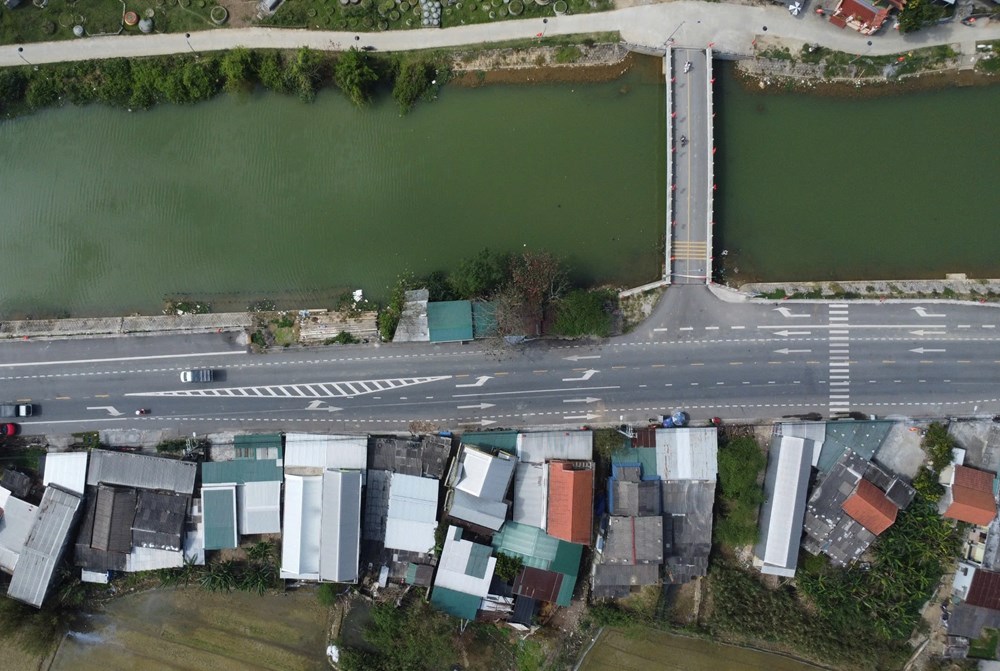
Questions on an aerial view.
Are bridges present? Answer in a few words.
Yes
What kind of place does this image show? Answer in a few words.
residential area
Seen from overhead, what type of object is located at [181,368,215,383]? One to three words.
vehicle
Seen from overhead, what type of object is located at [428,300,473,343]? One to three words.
shed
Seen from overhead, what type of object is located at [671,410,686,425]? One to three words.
umbrella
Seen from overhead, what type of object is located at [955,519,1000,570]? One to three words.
house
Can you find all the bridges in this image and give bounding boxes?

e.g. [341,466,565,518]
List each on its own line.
[664,47,713,287]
